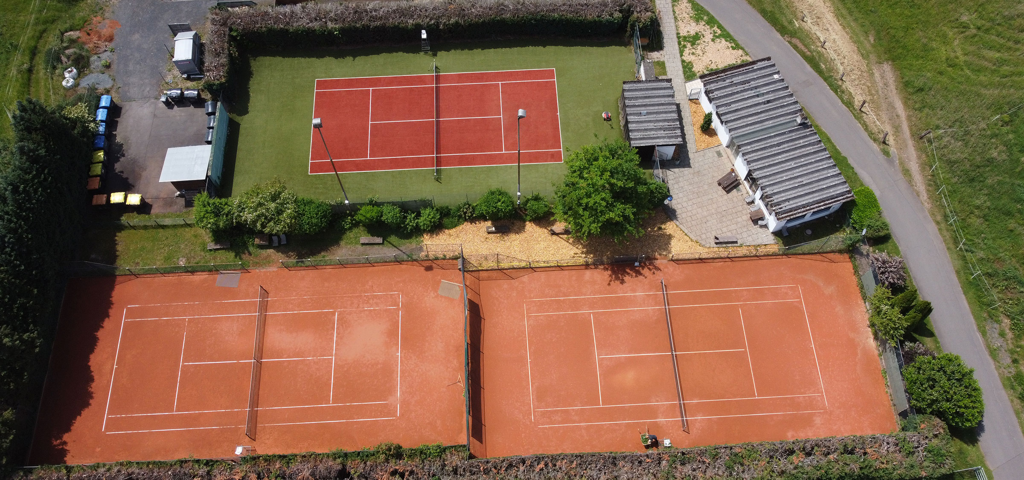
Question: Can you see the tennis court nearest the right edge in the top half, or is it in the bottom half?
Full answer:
Seen from above, the tennis court nearest the right edge lies in the bottom half of the view.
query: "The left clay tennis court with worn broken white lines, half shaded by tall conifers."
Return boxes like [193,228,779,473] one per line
[14,260,469,480]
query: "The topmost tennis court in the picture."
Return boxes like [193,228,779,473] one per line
[223,30,662,210]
